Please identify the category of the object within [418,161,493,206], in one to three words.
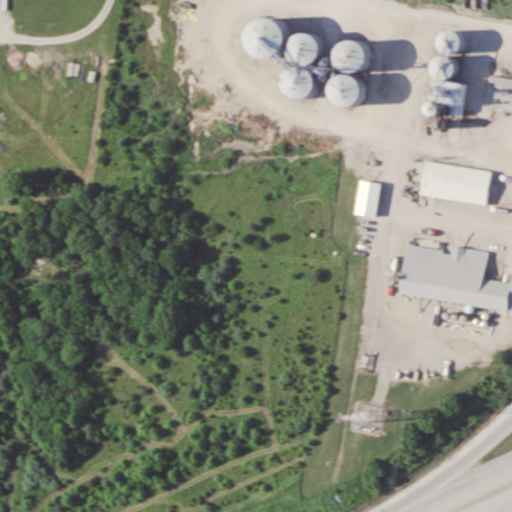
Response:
shed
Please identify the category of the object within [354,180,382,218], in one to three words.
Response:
shed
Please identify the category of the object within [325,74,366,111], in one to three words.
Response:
silo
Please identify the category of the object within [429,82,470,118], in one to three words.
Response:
building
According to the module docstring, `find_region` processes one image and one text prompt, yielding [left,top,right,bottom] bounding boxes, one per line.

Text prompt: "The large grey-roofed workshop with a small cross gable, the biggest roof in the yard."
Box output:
[400,244,512,312]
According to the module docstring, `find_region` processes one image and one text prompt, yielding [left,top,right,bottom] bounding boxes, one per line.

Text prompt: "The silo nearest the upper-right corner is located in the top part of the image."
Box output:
[435,29,466,58]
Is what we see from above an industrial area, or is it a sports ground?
industrial area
